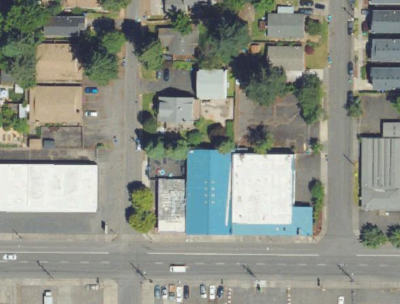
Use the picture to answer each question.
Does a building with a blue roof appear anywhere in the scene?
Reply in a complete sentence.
Yes, a building with a blue roof appears in the view.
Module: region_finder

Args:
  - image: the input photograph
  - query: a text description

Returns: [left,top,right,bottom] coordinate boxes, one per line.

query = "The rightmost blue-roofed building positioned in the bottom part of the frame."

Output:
[186,150,232,234]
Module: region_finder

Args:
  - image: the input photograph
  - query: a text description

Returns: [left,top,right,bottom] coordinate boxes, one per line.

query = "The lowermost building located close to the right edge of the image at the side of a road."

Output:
[361,121,400,211]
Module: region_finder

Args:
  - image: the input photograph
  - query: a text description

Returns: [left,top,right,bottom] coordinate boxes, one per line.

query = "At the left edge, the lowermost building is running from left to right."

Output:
[0,164,99,212]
